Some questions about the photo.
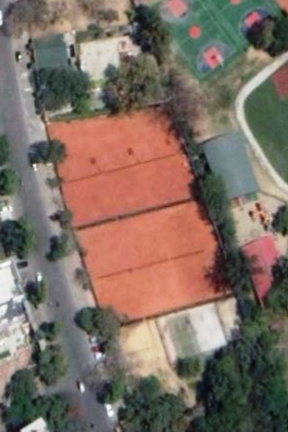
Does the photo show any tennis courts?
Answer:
Yes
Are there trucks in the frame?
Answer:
No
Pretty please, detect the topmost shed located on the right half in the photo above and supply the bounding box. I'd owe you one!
[202,137,256,203]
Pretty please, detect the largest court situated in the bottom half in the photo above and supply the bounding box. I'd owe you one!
[76,200,231,320]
